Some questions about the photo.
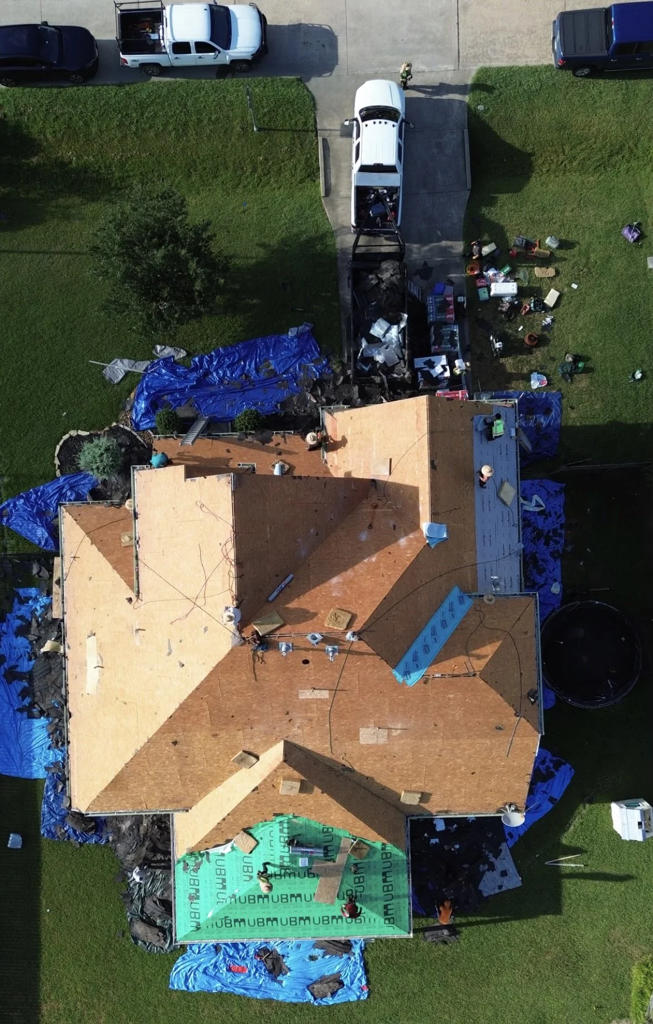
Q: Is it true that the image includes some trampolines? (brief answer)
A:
Yes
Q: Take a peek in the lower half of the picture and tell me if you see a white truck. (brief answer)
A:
No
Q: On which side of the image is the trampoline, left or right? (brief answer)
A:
right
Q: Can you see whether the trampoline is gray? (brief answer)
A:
No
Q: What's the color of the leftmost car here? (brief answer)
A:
black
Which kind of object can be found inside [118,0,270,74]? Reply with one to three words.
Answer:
truck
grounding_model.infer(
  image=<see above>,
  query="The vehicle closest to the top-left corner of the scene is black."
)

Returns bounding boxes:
[0,16,101,84]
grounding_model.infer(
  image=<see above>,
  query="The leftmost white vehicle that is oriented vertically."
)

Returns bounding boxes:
[341,78,417,238]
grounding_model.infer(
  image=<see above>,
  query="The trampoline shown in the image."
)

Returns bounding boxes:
[542,604,643,705]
